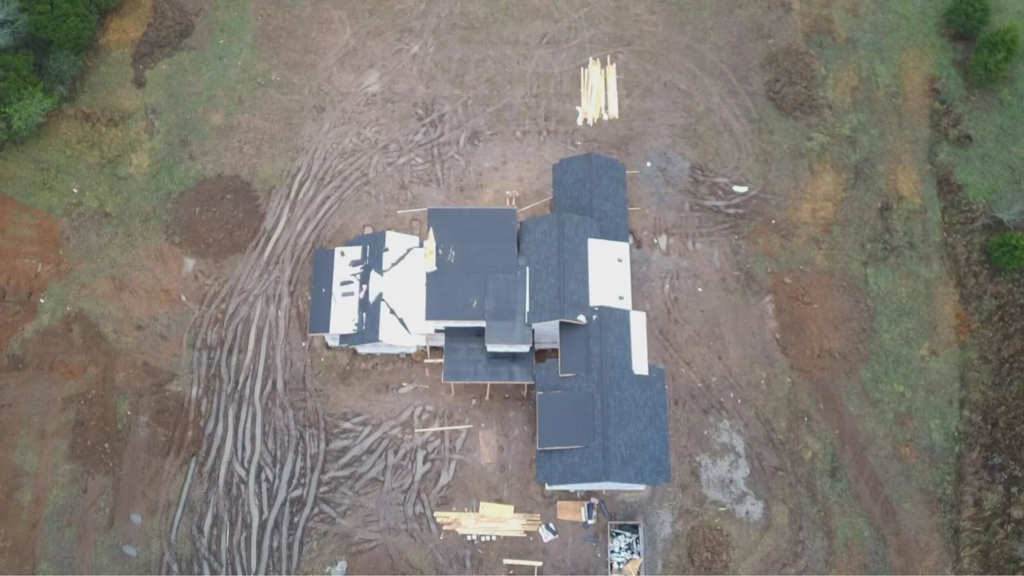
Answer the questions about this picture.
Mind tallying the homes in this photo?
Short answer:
one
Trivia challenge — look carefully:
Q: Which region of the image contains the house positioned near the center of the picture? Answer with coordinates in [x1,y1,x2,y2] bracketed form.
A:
[308,152,670,490]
